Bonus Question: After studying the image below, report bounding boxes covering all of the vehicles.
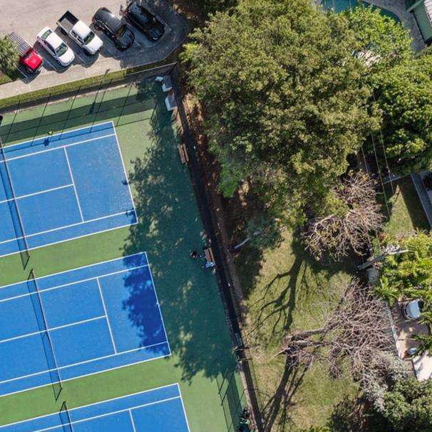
[38,22,76,69]
[95,2,135,53]
[3,26,45,77]
[56,2,102,58]
[124,0,166,45]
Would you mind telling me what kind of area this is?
sports ground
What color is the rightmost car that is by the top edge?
black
